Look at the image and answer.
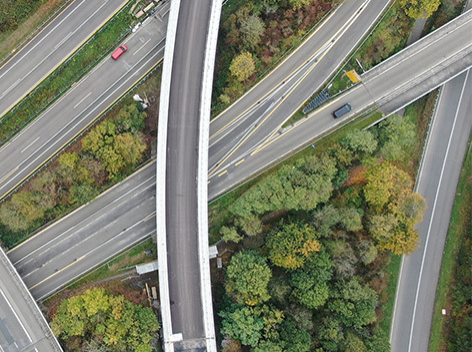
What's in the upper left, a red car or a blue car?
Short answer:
red car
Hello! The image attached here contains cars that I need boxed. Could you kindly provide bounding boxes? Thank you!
[111,44,128,60]
[334,101,354,118]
